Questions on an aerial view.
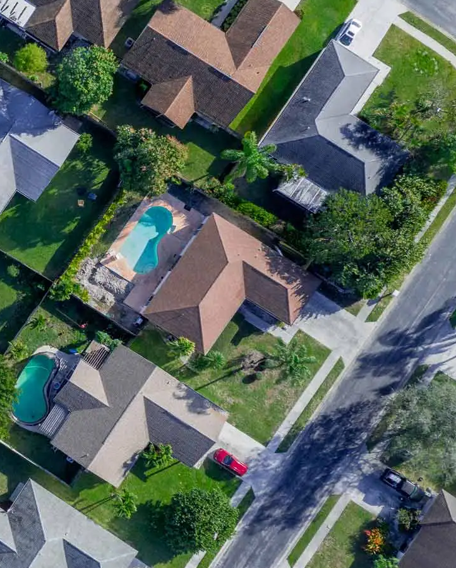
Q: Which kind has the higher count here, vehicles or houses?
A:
houses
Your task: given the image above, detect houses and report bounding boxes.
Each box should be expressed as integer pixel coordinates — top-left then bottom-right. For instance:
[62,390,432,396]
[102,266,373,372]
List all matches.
[0,478,139,568]
[258,39,410,201]
[0,80,81,214]
[50,344,229,489]
[120,0,302,130]
[384,489,456,568]
[142,212,319,356]
[24,0,140,52]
